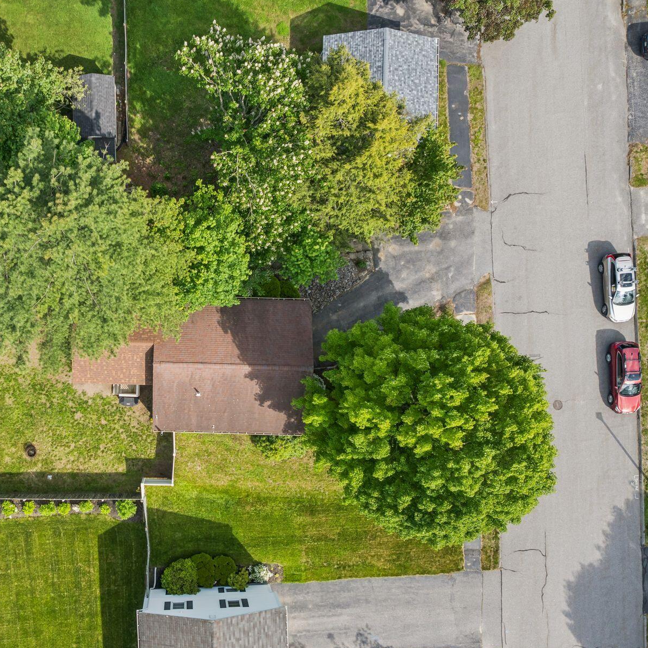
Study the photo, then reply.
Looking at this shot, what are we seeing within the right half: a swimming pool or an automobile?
automobile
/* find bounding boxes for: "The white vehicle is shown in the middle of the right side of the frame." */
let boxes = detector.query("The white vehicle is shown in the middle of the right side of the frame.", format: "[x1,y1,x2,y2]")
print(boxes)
[597,252,640,323]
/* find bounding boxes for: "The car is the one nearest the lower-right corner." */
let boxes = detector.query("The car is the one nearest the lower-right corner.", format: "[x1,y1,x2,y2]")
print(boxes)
[606,341,648,413]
